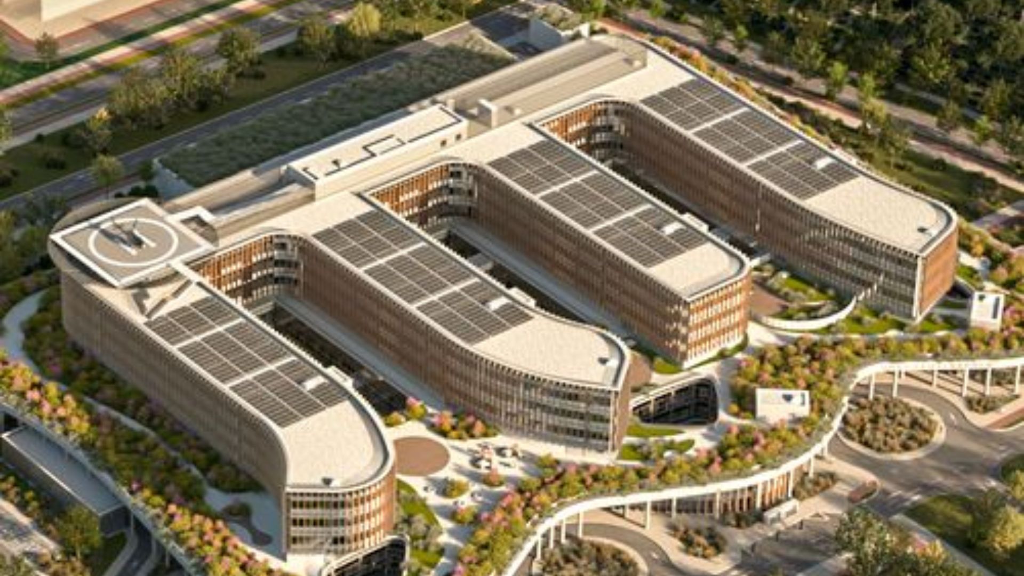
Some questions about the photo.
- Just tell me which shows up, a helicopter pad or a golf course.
helicopter pad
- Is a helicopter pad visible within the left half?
Yes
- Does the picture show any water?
No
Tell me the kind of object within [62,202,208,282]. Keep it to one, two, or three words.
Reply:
helipad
